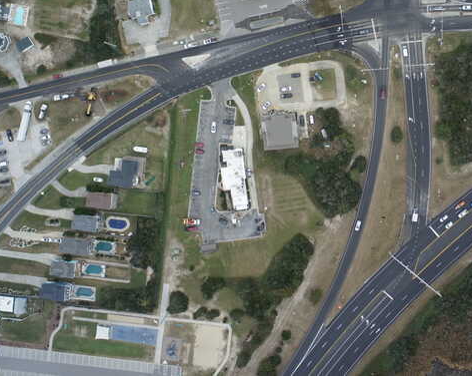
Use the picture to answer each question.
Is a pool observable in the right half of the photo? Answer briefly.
No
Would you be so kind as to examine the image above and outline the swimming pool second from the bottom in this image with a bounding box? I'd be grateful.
[81,262,107,278]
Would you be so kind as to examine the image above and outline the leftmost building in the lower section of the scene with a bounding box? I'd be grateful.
[0,295,29,315]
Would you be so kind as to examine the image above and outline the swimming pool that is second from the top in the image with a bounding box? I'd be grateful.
[106,216,129,232]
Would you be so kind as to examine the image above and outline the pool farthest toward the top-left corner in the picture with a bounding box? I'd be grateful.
[9,4,28,26]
